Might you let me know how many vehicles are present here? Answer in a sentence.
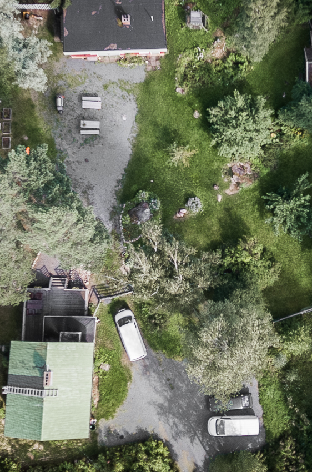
The photo contains 3 vehicles.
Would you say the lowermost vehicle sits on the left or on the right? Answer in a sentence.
The lowermost vehicle is on the right side of the image.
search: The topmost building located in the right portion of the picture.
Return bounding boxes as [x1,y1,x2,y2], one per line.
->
[189,11,210,34]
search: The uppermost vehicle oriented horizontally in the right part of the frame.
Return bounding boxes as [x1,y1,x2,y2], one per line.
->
[209,392,254,415]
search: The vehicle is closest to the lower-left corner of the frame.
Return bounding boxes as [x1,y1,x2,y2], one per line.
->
[113,308,148,364]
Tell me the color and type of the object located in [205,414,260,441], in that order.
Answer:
white vehicle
